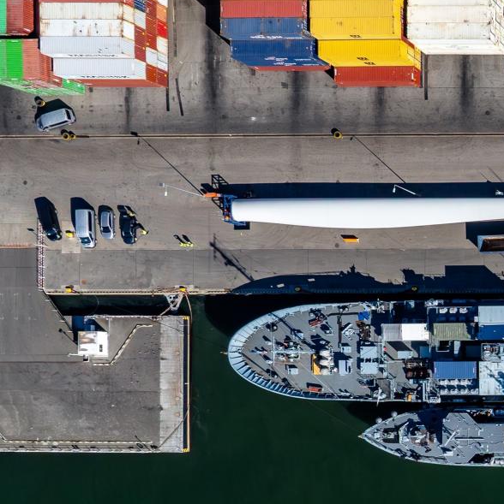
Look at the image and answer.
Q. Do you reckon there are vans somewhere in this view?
Yes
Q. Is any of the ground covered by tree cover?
No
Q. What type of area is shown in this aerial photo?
port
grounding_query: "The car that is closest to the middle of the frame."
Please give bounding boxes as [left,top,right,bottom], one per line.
[116,211,135,243]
